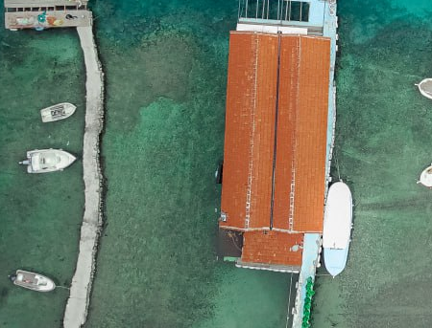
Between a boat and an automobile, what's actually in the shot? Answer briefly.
boat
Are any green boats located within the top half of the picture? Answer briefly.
No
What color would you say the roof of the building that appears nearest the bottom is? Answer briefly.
orange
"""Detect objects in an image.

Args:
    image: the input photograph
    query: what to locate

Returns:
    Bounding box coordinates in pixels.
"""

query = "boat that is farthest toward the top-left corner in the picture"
[41,104,77,121]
